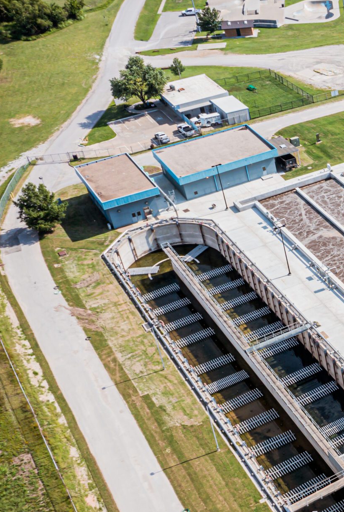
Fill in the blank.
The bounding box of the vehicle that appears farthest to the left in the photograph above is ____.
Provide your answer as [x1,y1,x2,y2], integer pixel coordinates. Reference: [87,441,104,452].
[152,129,170,143]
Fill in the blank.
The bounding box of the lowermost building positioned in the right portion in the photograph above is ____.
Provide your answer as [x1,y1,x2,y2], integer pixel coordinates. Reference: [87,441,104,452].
[152,123,298,200]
